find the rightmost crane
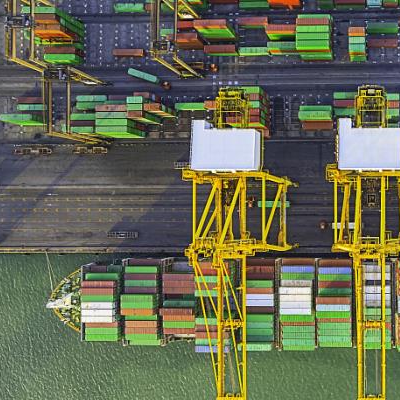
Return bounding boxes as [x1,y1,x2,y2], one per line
[319,82,400,400]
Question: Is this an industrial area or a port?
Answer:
port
